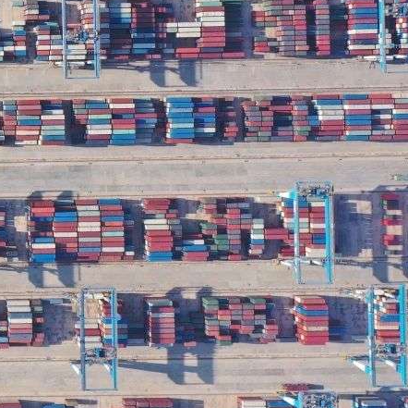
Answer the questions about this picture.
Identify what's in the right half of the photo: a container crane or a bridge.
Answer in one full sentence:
Looking in the right half of the photo, you will find a container crane.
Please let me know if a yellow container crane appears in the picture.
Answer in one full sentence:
No, this view has no yellow container crane in it.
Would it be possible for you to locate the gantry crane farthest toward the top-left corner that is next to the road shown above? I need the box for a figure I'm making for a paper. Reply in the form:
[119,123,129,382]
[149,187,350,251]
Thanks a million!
[49,0,99,79]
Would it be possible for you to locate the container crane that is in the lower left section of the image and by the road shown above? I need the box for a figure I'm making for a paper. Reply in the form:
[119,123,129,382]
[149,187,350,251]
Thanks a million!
[66,287,118,390]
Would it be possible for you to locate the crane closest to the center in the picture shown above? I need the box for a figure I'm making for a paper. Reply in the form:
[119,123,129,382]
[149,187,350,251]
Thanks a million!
[273,179,334,284]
